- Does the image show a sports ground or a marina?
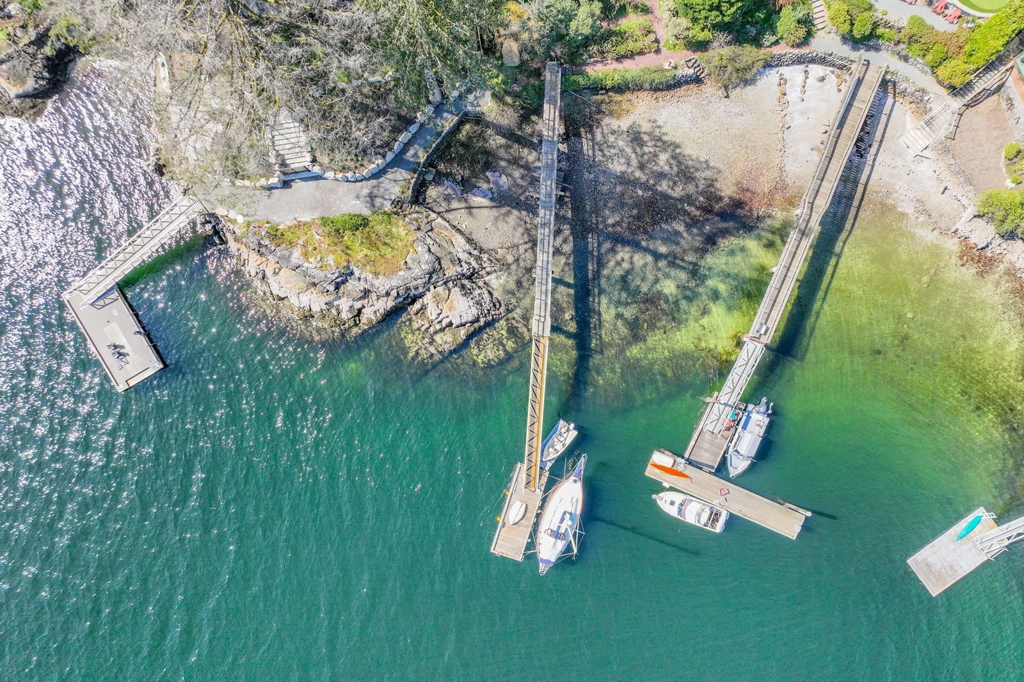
marina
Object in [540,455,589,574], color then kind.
white boat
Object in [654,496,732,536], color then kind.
white boat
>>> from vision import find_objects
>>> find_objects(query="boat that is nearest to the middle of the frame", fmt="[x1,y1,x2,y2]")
[541,419,577,469]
